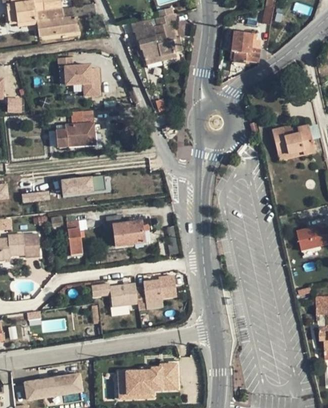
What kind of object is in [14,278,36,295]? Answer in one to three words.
swimming pool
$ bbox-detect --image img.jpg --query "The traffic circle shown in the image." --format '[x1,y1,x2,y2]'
[188,92,240,149]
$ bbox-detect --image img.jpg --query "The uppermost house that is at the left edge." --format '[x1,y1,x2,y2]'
[0,0,80,42]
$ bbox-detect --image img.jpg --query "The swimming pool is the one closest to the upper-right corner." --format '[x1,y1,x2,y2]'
[291,1,313,17]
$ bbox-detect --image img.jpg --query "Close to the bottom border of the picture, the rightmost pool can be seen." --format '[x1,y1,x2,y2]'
[104,372,118,402]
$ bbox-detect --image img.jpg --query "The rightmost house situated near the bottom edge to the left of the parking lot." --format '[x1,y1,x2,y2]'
[118,361,180,400]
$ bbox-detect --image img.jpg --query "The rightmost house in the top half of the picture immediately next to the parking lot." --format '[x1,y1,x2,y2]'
[270,124,320,162]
